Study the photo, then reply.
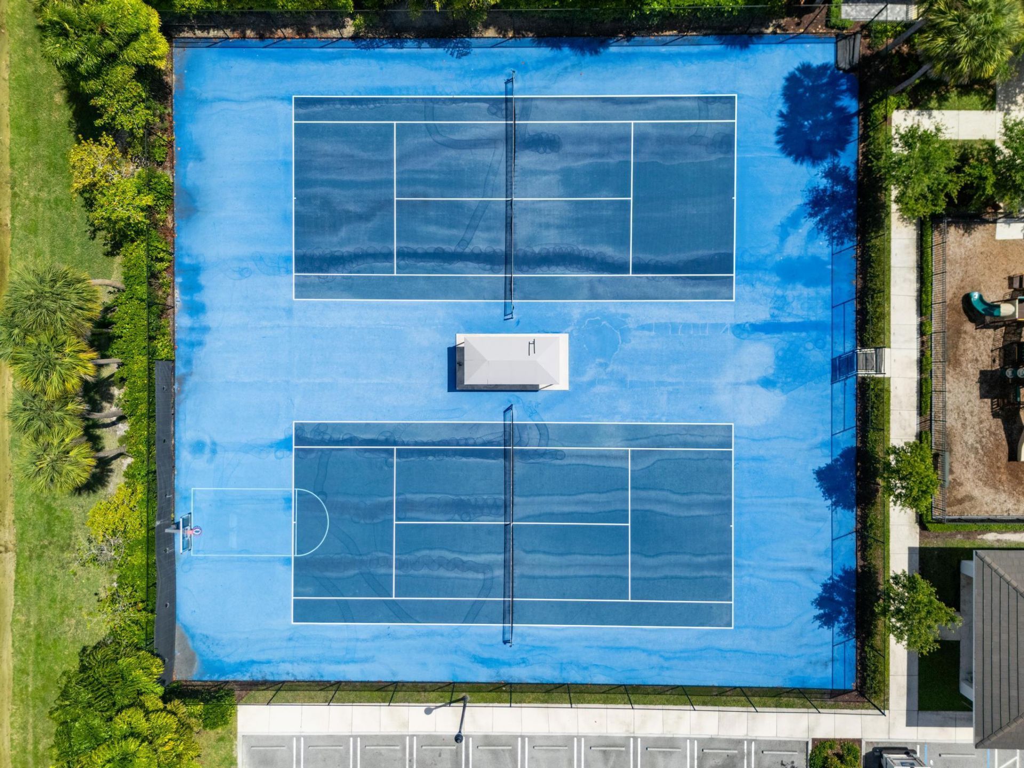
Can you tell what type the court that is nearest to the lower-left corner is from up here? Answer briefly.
basketball court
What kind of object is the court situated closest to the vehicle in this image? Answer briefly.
tennis court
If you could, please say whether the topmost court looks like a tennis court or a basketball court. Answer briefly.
tennis court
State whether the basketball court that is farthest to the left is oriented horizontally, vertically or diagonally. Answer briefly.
horizontally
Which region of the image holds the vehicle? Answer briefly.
bottom right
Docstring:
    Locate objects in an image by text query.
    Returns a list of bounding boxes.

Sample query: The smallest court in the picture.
[192,488,329,556]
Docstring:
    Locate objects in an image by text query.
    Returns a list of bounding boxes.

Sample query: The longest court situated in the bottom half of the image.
[292,421,734,629]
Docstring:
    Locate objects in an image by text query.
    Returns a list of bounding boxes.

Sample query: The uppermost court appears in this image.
[293,94,737,301]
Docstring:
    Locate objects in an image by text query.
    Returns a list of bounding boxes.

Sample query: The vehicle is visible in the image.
[881,745,935,768]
